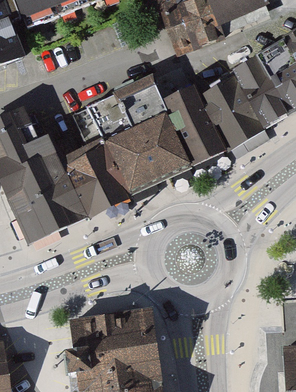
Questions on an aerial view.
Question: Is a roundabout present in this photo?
Yes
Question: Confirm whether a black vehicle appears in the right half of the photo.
Yes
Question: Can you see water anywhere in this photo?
No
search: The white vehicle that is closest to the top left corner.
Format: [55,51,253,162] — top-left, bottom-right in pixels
[54,47,69,69]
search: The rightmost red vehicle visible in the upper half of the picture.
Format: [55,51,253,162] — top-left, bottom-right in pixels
[77,82,105,100]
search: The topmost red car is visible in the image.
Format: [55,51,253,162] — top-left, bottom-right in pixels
[41,52,55,73]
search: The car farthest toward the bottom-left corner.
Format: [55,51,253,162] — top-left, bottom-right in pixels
[11,380,32,392]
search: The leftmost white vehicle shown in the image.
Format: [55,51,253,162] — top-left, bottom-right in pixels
[26,289,44,317]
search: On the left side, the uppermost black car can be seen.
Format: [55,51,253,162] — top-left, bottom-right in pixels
[66,43,80,64]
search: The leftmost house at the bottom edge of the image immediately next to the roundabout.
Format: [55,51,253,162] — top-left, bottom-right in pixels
[65,306,165,392]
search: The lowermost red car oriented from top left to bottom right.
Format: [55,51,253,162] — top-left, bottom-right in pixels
[64,92,79,112]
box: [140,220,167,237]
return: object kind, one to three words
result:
vehicle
